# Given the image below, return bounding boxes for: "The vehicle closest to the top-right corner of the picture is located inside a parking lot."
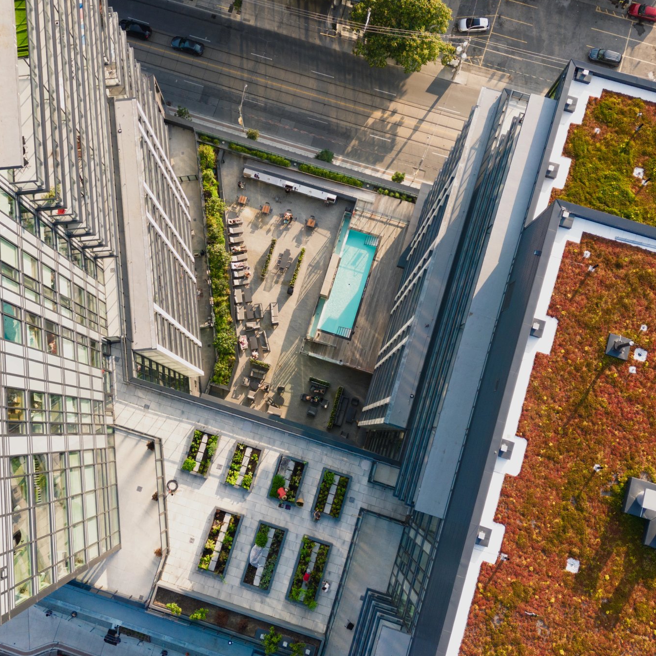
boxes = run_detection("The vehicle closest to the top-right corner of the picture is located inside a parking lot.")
[626,1,656,24]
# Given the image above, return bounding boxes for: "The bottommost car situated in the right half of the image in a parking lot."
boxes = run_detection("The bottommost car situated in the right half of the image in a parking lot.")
[586,46,625,69]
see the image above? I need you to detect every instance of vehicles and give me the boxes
[626,1,656,24]
[119,18,154,40]
[456,15,493,33]
[169,35,206,57]
[586,46,625,69]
